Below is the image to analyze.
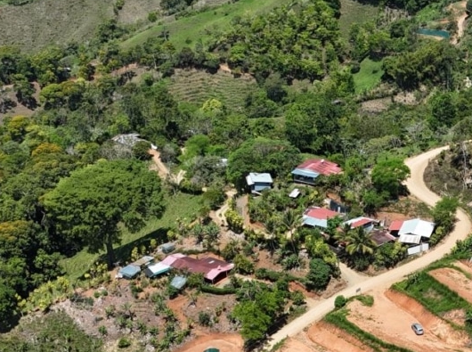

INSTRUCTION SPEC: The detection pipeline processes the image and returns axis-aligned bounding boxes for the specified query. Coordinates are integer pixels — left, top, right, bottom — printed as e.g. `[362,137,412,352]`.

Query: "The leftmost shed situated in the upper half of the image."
[112,133,152,148]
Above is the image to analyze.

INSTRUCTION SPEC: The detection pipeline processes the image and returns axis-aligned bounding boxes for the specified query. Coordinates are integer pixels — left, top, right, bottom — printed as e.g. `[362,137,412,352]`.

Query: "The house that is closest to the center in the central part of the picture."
[246,173,274,195]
